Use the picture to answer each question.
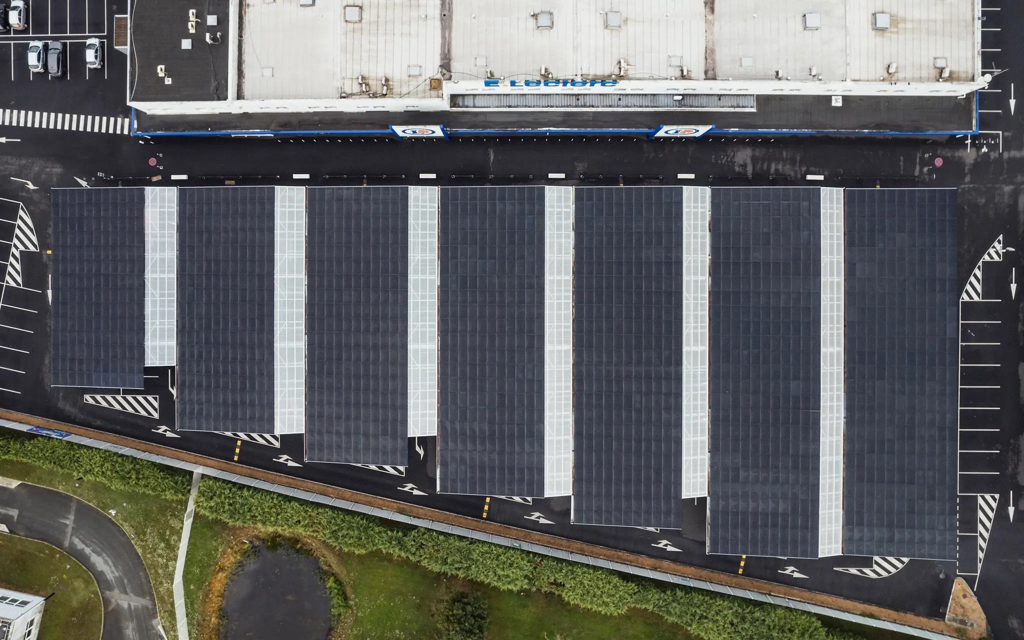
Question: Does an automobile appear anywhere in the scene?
Yes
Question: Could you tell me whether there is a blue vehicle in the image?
No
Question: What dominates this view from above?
buildings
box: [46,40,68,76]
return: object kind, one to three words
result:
car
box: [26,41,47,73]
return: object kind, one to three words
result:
car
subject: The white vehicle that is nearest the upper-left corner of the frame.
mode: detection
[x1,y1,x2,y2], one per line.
[7,0,29,31]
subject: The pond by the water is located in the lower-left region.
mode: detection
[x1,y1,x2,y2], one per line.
[218,541,334,640]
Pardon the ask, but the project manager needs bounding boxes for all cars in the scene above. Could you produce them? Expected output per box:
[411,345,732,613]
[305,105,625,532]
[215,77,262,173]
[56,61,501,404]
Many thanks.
[0,0,11,34]
[7,0,29,31]
[26,41,47,73]
[46,40,68,76]
[84,38,105,69]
